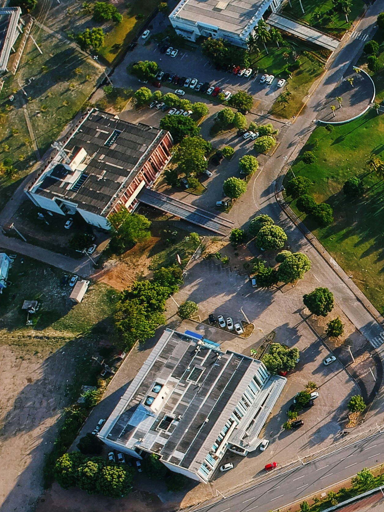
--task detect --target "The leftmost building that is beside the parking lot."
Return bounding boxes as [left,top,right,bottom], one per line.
[28,108,174,228]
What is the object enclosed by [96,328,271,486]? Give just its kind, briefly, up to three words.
building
